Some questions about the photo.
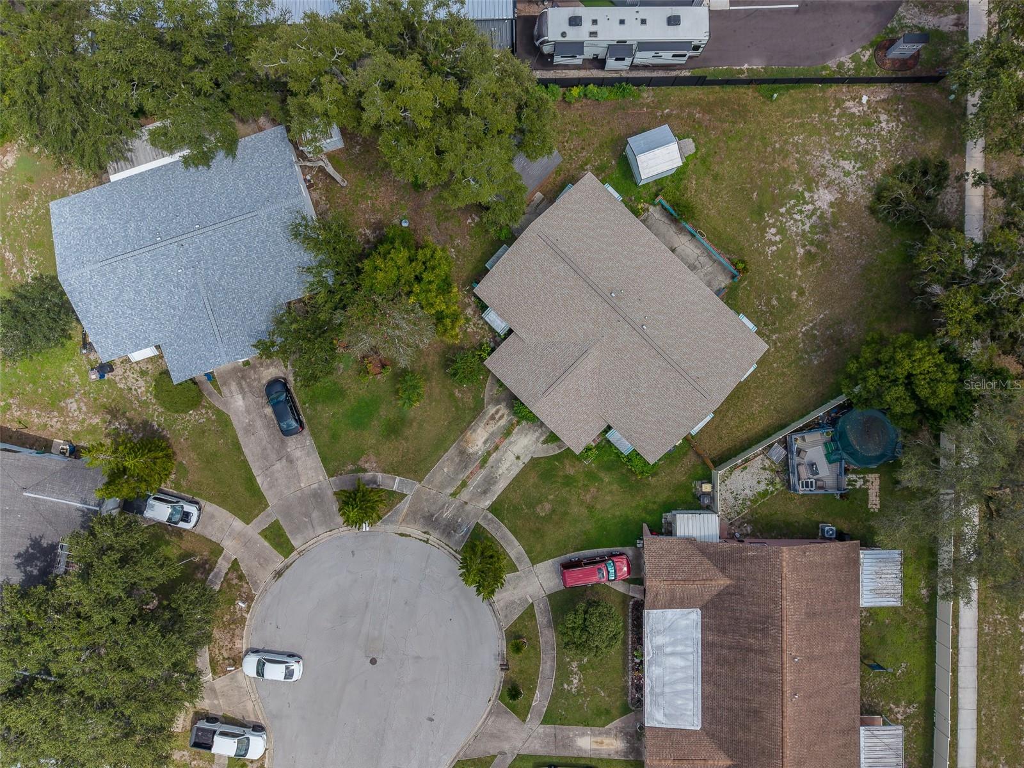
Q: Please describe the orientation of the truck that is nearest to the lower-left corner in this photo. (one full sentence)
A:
In this picture, the truck that is nearest to the lower-left corner lies from side to side.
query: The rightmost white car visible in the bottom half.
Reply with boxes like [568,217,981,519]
[243,648,306,682]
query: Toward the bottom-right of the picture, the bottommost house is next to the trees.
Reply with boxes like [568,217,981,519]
[642,532,860,768]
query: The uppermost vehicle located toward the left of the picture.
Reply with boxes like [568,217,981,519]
[265,376,306,438]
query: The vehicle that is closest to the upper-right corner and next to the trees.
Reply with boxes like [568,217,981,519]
[533,0,710,74]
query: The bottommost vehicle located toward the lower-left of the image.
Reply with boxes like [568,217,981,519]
[189,717,270,761]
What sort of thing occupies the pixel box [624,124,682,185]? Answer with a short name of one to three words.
shed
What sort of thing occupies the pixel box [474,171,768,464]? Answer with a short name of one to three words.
house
